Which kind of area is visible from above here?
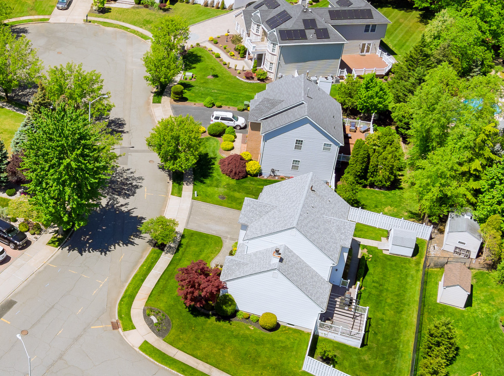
residential area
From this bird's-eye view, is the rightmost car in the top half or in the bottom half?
top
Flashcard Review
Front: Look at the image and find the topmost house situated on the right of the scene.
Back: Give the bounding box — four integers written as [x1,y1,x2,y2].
[229,0,396,82]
